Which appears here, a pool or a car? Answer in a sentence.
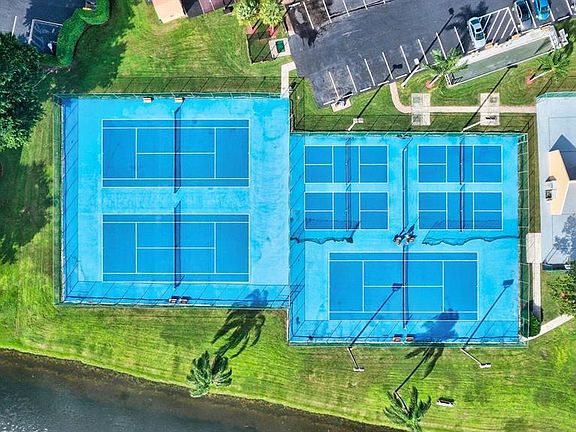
It is a car that can be seen here.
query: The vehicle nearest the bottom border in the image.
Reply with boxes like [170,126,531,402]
[467,18,486,51]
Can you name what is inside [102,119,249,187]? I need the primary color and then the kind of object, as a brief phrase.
blue tennis court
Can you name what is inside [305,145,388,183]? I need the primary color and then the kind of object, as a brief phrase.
blue sports court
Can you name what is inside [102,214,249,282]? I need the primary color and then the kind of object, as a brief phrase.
blue tennis court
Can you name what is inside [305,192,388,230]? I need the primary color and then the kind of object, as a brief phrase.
blue sports court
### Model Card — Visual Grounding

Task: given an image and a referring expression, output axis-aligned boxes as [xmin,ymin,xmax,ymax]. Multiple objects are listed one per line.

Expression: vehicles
[530,0,549,22]
[509,0,529,28]
[467,18,486,51]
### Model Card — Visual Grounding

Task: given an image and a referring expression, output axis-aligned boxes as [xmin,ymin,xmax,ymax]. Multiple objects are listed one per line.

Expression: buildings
[151,0,186,22]
[550,147,576,215]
